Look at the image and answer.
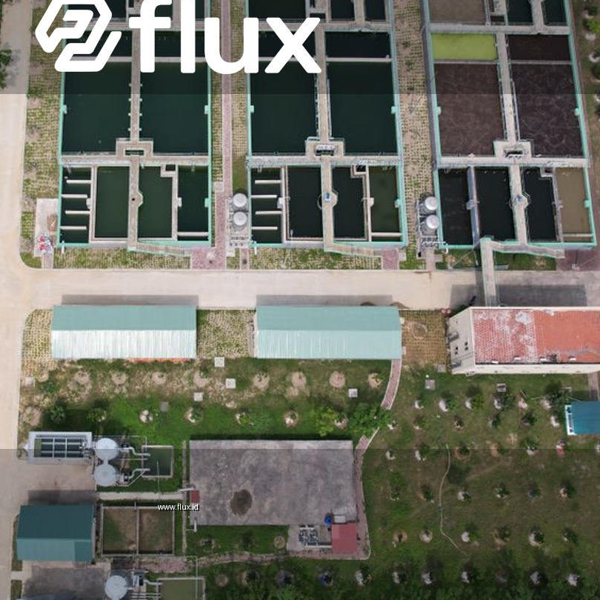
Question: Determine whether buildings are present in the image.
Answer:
Yes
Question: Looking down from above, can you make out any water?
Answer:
Yes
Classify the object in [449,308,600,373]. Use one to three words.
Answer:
building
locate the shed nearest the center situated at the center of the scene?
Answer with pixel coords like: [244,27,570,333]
[253,306,402,360]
